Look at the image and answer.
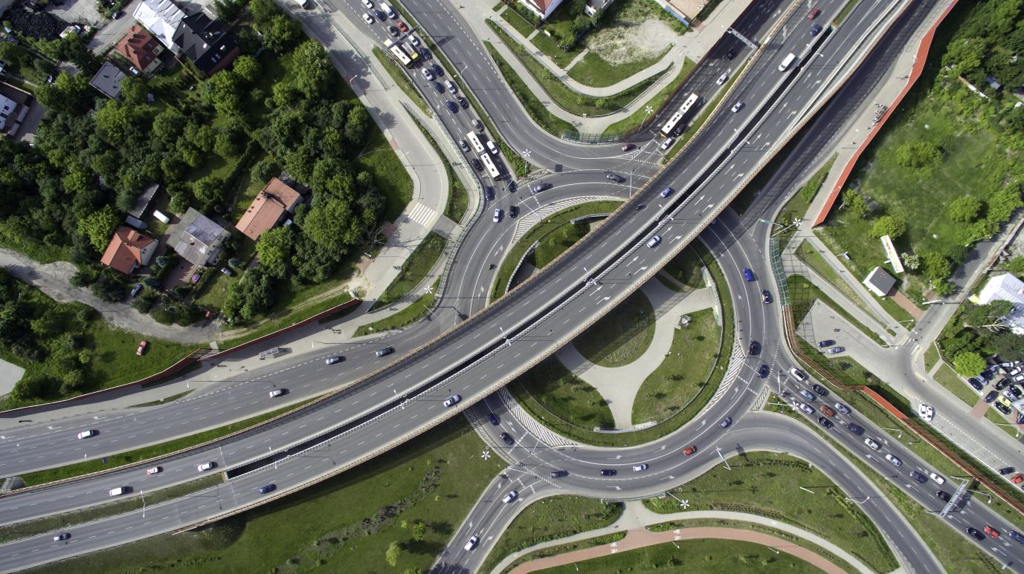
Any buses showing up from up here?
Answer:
Yes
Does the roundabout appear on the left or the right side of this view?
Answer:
right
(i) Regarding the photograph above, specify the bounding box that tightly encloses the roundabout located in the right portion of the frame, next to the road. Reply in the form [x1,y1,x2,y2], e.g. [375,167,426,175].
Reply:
[442,130,913,574]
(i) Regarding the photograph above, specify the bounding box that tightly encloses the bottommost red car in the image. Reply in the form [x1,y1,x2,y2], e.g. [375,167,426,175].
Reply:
[985,526,1001,539]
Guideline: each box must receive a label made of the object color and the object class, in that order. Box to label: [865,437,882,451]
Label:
white car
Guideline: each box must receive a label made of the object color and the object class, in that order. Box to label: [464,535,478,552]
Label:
white car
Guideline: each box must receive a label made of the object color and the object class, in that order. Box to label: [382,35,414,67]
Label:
white bus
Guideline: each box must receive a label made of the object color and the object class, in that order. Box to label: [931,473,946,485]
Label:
white vehicle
